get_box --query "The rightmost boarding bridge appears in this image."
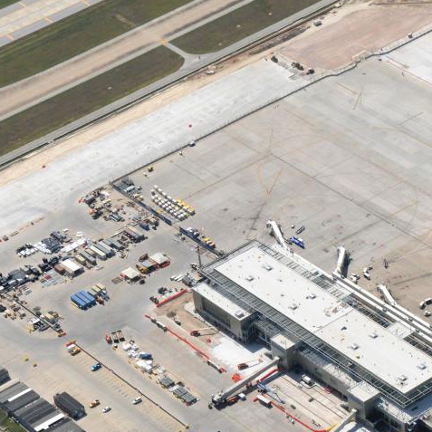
[377,282,397,307]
